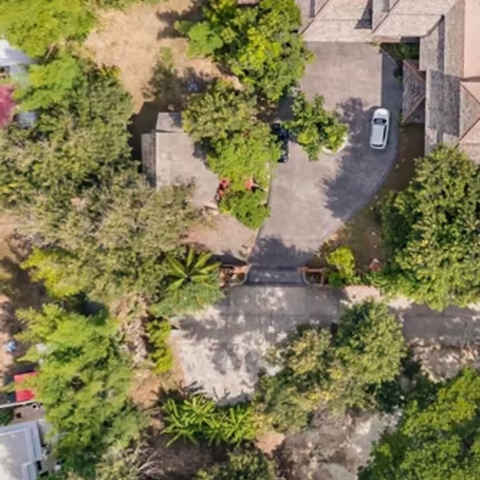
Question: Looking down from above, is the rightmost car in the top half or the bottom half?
top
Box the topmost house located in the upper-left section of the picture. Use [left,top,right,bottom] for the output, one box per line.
[0,38,43,85]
